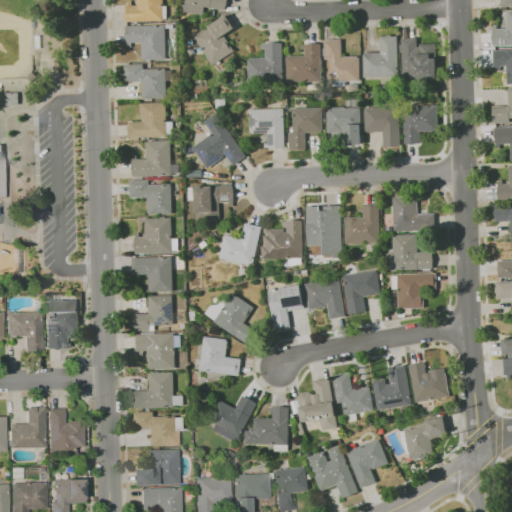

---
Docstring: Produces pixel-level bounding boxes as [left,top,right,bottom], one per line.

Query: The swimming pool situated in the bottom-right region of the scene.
[387,432,406,458]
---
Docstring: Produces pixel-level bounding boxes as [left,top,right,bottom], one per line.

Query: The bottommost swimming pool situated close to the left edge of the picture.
[12,450,36,462]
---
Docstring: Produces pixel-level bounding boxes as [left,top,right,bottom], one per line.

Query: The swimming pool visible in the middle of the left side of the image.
[7,296,34,312]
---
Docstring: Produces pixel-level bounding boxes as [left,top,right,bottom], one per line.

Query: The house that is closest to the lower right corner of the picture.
[404,414,447,458]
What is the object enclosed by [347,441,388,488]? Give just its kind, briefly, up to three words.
house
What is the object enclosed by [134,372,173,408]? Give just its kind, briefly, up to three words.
house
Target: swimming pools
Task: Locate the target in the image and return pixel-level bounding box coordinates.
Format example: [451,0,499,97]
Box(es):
[7,296,34,312]
[181,454,190,478]
[387,432,406,458]
[12,450,36,462]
